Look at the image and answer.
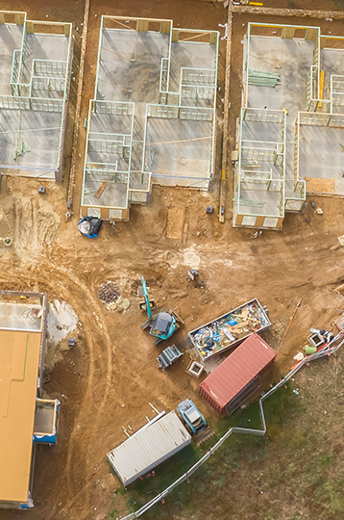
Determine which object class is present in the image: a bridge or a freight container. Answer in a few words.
freight container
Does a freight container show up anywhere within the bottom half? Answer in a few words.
Yes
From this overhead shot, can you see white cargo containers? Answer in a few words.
Yes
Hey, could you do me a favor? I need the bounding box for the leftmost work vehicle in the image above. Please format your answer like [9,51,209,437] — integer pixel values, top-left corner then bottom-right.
[139,273,187,349]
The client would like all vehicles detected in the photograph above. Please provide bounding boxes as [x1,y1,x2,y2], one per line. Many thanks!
[171,395,215,447]
[139,273,187,349]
